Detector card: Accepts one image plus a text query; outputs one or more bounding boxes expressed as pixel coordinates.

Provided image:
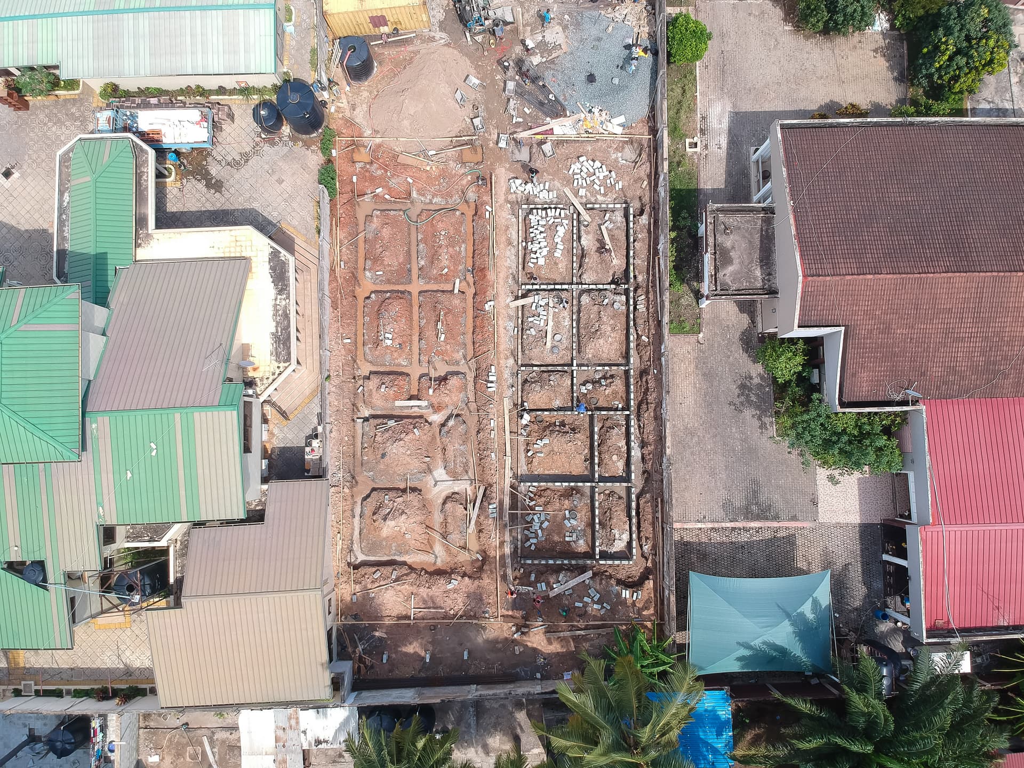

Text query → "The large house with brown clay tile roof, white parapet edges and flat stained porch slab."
[693,117,1024,410]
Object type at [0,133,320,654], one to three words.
building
